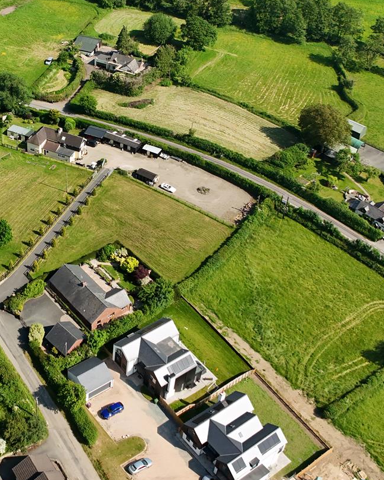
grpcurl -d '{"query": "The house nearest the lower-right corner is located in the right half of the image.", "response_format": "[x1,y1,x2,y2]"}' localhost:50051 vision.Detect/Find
[183,384,288,480]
